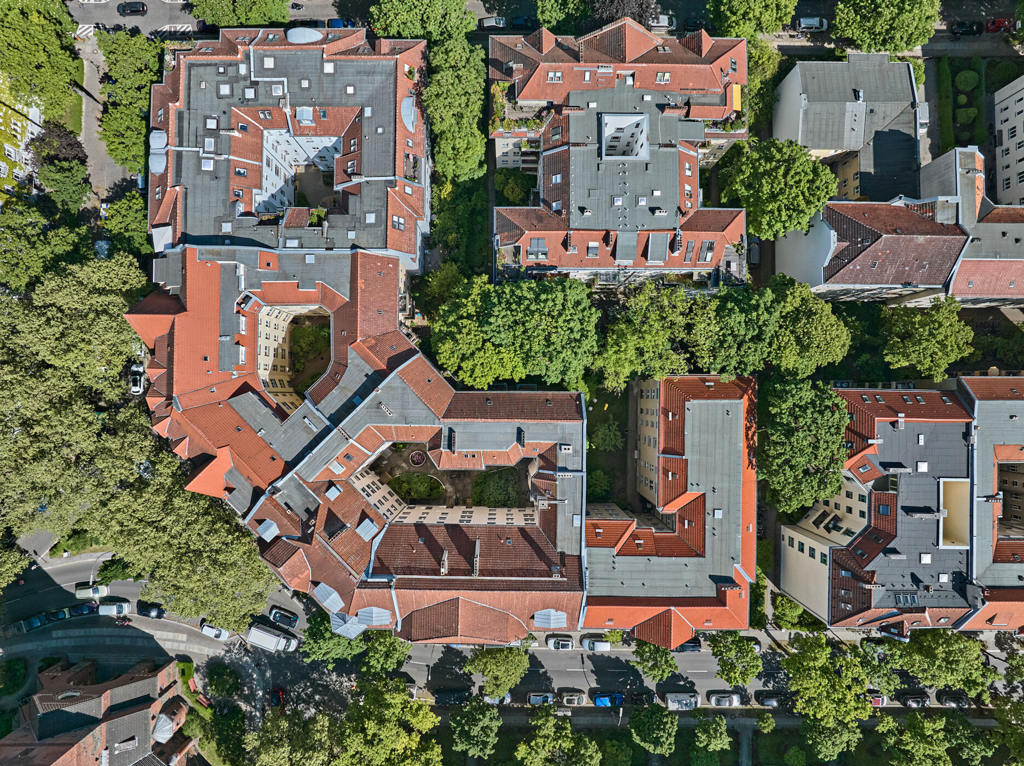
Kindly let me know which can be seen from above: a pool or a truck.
truck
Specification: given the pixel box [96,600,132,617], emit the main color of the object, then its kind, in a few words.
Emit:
white car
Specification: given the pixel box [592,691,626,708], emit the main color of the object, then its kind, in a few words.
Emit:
blue car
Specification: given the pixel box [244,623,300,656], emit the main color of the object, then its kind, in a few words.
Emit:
white truck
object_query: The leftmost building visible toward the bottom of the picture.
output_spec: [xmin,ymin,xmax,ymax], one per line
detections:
[0,652,202,766]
